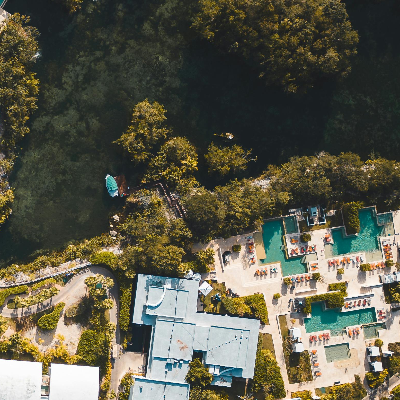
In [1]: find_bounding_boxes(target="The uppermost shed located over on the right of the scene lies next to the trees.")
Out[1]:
[306,205,324,226]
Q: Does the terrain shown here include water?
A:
Yes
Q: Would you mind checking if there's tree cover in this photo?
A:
Yes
